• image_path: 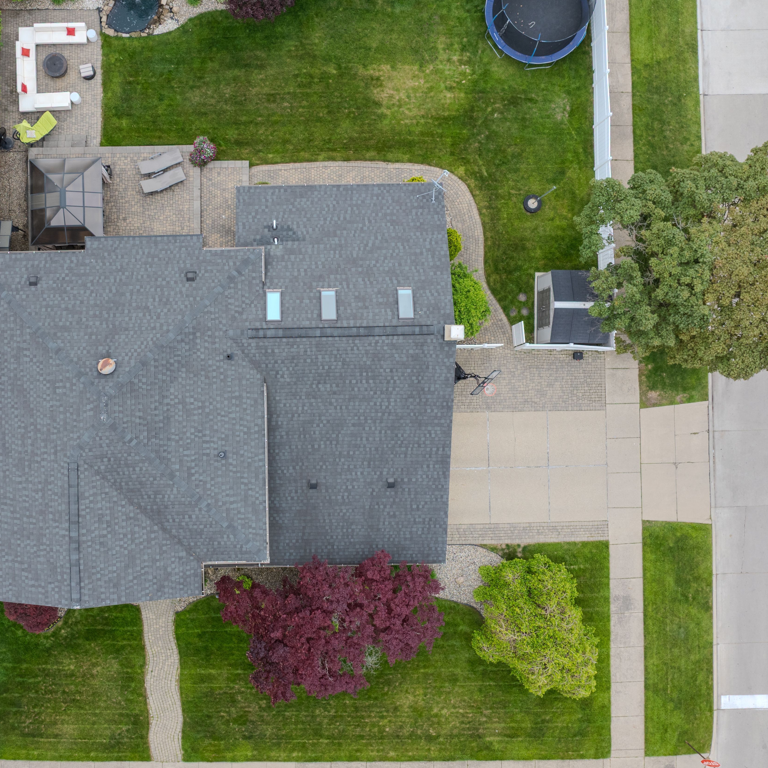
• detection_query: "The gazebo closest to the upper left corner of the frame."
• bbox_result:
[26,156,110,248]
